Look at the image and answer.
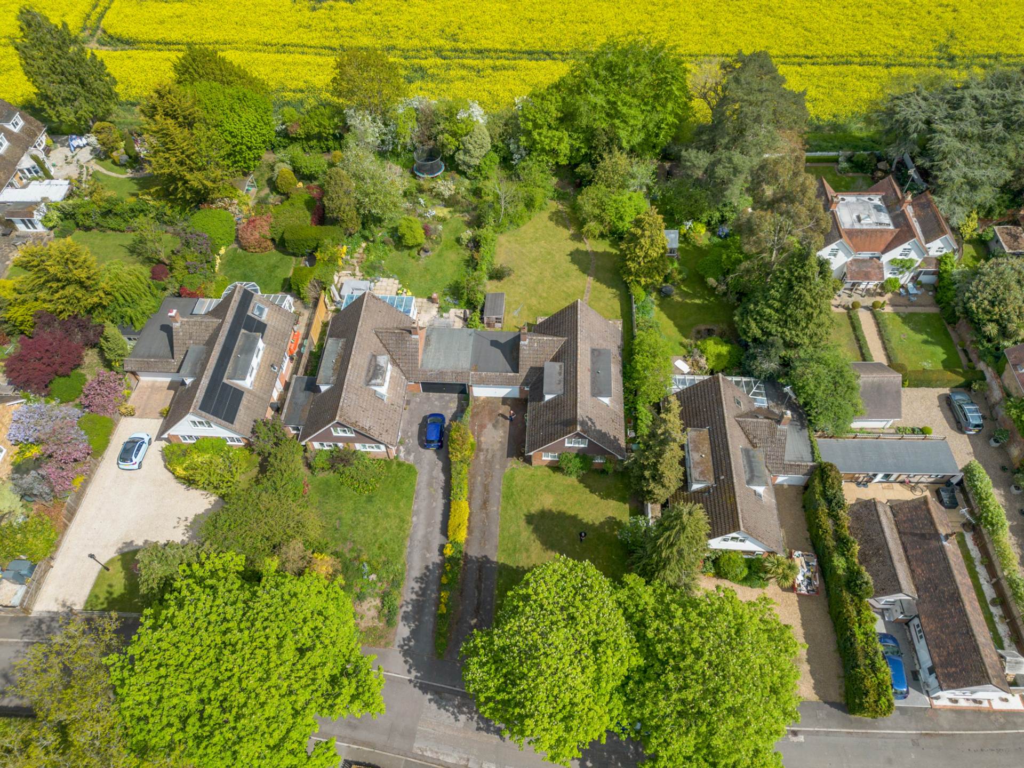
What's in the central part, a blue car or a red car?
blue car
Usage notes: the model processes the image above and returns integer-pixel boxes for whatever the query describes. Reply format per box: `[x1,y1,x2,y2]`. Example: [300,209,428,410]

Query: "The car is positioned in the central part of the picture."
[423,411,446,452]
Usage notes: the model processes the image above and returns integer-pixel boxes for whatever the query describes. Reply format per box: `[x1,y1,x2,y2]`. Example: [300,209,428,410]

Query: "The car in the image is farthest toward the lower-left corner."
[112,427,153,474]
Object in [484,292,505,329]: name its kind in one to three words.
shed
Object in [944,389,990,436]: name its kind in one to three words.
car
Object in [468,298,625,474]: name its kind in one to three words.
house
